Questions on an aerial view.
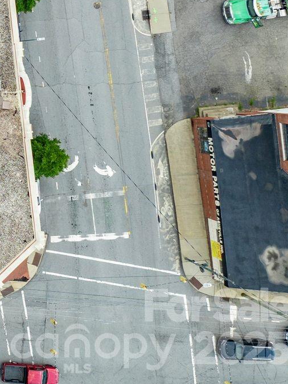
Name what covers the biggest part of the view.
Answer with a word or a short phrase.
paved ground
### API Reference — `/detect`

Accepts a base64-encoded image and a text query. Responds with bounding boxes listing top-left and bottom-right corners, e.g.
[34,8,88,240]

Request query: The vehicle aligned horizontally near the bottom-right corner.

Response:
[213,335,278,364]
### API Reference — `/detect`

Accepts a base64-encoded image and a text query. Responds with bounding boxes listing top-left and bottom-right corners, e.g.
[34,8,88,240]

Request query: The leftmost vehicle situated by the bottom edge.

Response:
[0,360,59,384]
